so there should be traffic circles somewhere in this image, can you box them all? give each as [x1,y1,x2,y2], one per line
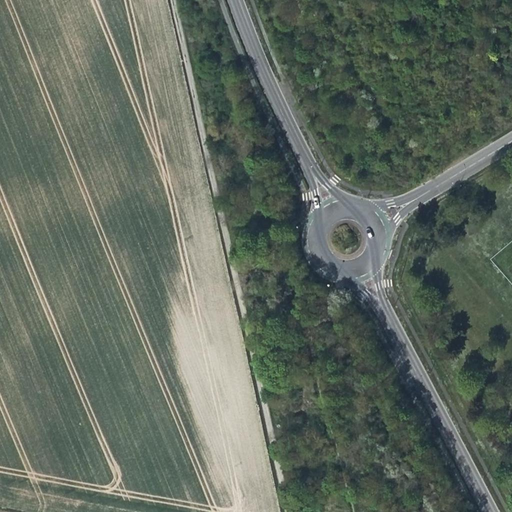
[307,189,398,286]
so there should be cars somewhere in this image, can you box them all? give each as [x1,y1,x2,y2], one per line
[314,198,320,208]
[366,228,372,238]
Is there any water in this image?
No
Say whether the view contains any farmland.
Yes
